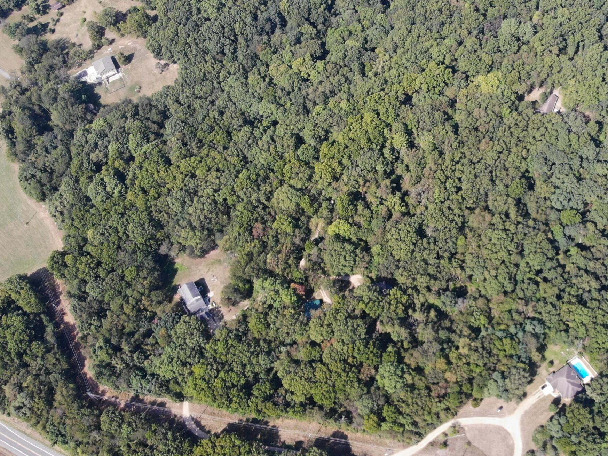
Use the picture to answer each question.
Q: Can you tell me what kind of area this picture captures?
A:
forest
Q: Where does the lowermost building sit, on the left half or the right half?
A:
right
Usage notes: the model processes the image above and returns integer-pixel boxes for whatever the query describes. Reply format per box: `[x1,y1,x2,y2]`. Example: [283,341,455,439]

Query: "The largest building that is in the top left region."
[92,56,118,81]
